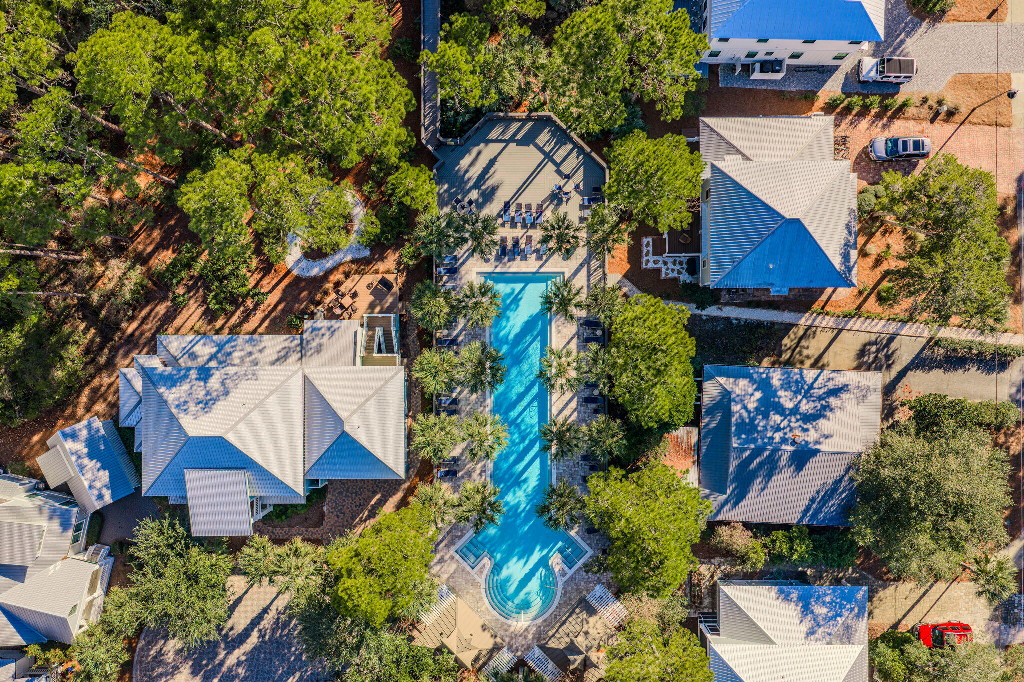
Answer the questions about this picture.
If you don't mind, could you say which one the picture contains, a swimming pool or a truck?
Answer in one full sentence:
This aerial view contains a swimming pool.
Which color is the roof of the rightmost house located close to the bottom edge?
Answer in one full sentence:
From above, the roof of the rightmost house located close to the bottom edge looks white.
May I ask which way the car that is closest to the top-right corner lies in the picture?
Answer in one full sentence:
The car that is closest to the top-right corner is laid out from left to right.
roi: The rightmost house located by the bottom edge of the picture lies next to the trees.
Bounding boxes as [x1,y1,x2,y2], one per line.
[689,567,870,682]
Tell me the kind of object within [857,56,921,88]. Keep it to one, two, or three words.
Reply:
car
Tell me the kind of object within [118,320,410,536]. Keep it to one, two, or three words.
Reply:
building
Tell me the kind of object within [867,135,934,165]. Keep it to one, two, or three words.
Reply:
car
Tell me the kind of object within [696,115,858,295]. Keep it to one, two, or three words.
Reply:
house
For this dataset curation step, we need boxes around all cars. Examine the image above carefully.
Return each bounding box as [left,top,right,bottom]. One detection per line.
[867,135,934,165]
[857,56,921,88]
[913,615,979,649]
